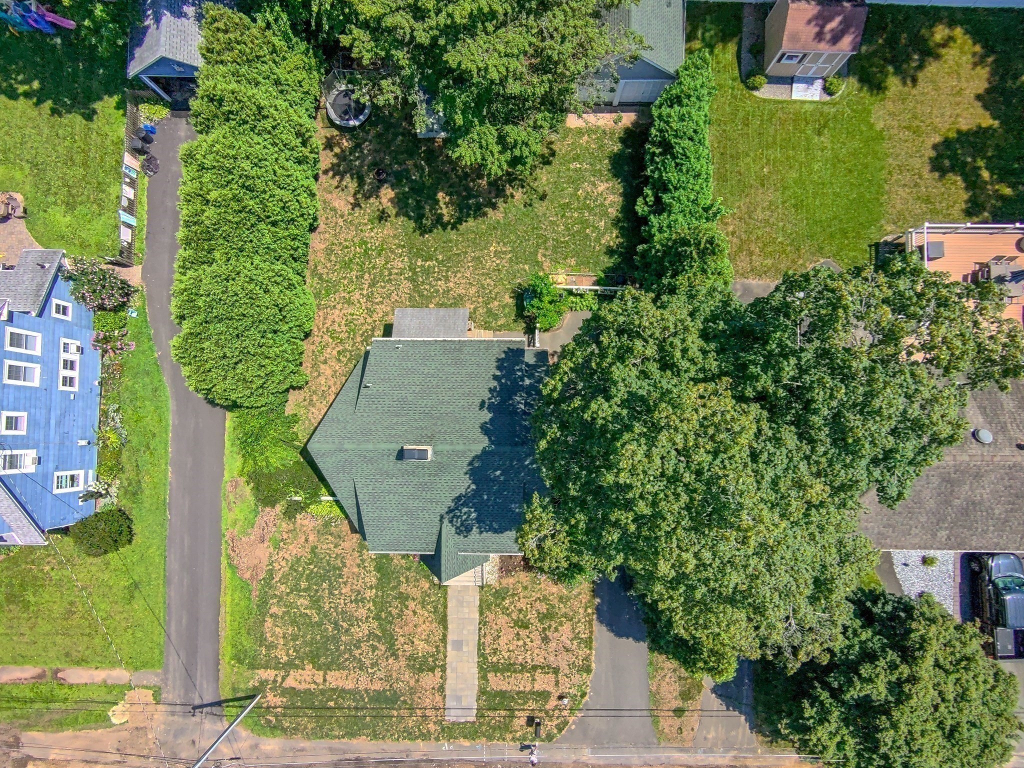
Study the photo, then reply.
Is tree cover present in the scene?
Yes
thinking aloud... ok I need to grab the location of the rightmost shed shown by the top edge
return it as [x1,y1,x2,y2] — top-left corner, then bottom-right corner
[765,0,862,74]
